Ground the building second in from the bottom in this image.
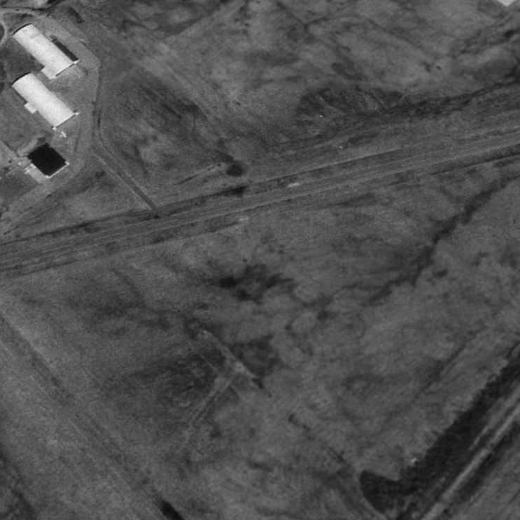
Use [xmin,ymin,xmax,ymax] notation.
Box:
[11,73,78,131]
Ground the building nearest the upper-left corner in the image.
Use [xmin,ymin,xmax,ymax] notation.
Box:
[12,24,79,80]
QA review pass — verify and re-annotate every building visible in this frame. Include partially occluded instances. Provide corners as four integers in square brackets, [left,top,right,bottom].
[12,24,79,80]
[11,73,78,131]
[28,142,71,181]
